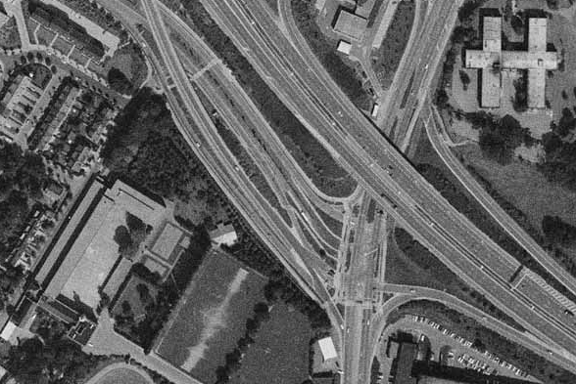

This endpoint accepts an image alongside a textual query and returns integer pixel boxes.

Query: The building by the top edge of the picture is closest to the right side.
[466,18,556,107]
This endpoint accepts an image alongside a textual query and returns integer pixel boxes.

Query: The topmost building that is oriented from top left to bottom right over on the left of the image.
[32,5,101,57]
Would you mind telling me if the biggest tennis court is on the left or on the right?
left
